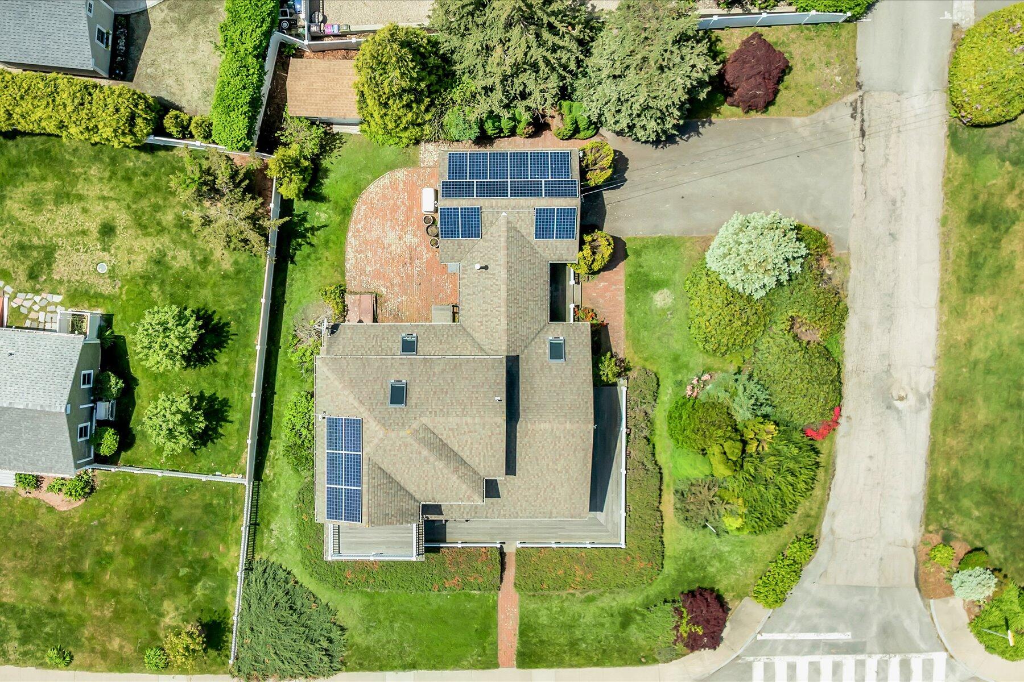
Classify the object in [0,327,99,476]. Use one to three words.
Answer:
house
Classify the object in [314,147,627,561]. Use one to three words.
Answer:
house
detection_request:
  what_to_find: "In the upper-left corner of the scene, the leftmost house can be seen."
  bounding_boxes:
[0,0,115,78]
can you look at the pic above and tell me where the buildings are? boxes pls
[0,327,99,476]
[287,58,363,134]
[0,0,115,78]
[314,147,627,561]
